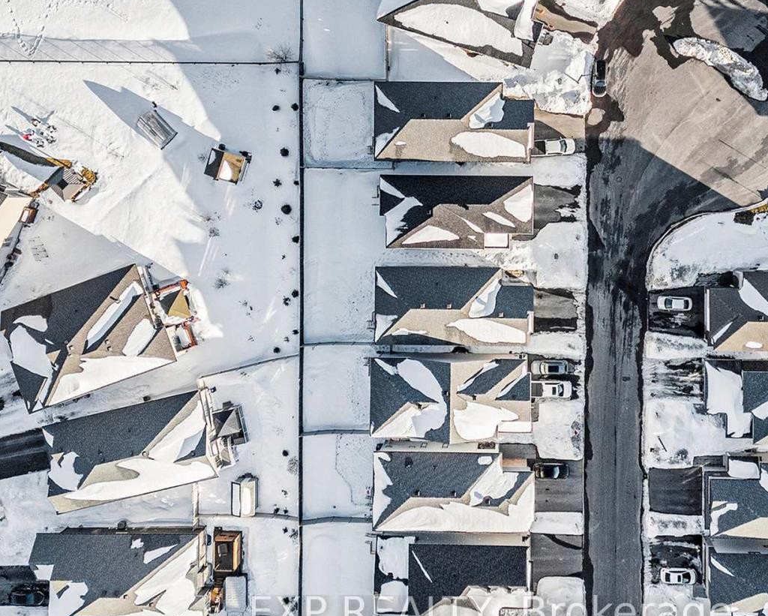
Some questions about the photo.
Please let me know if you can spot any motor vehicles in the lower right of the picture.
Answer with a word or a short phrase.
Yes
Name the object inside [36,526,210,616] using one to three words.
house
